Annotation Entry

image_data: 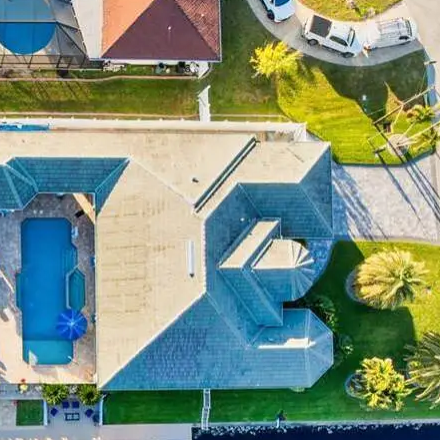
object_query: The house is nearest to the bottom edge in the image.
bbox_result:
[0,132,335,388]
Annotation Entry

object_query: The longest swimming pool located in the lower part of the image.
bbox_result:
[13,214,80,367]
